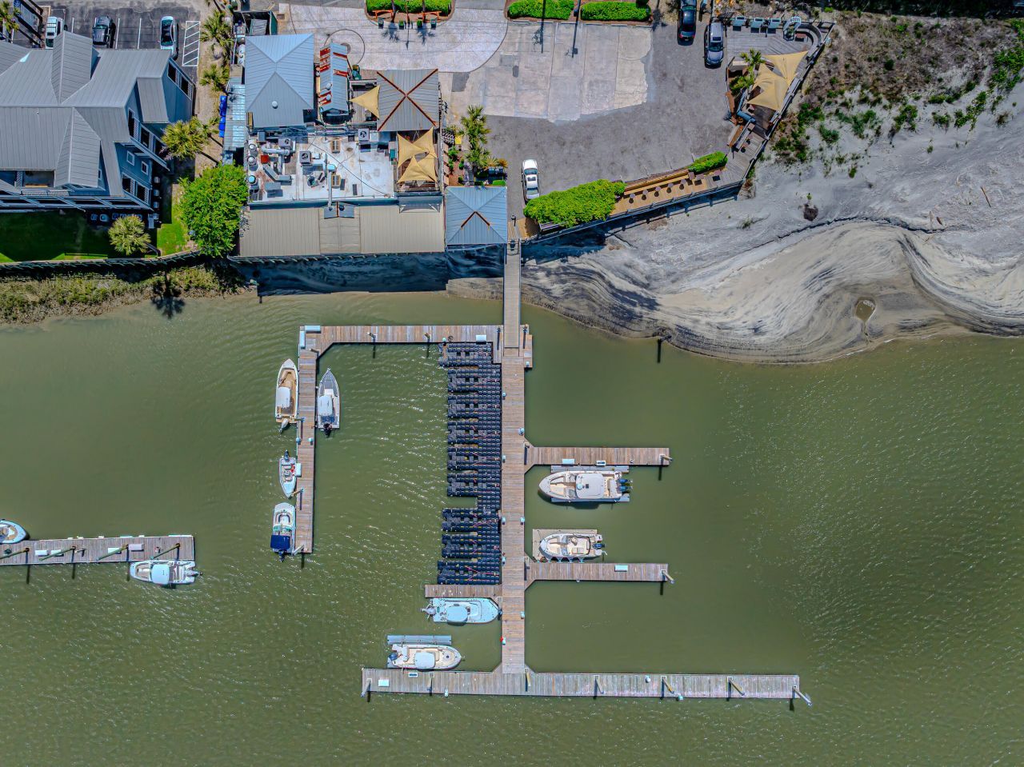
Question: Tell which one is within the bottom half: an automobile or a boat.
boat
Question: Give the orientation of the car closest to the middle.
from top to bottom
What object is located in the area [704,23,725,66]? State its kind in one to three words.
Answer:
car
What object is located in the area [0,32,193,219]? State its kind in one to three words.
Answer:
building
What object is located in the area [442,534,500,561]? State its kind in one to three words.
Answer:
pier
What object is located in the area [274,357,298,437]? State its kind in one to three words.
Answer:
boat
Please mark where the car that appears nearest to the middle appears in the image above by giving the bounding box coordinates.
[521,159,541,203]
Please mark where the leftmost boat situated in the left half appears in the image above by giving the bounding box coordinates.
[0,521,32,546]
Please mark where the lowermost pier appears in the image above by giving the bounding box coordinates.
[362,667,800,699]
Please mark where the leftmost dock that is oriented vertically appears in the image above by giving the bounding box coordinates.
[294,345,319,553]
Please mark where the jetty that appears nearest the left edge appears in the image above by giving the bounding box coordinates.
[0,536,195,566]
